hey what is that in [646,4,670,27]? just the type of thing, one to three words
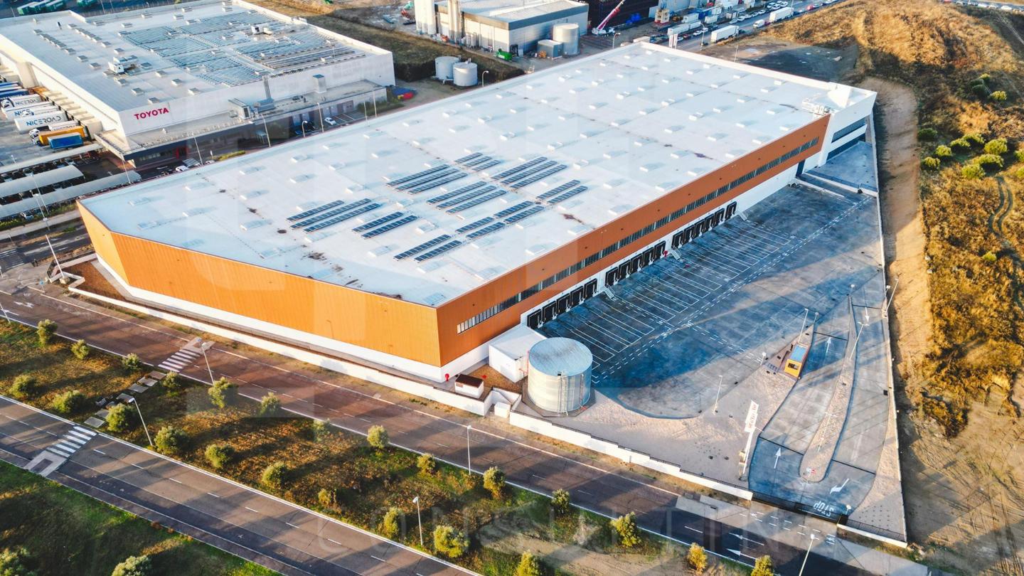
building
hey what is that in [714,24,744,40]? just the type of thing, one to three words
vehicle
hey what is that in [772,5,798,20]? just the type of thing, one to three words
vehicle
